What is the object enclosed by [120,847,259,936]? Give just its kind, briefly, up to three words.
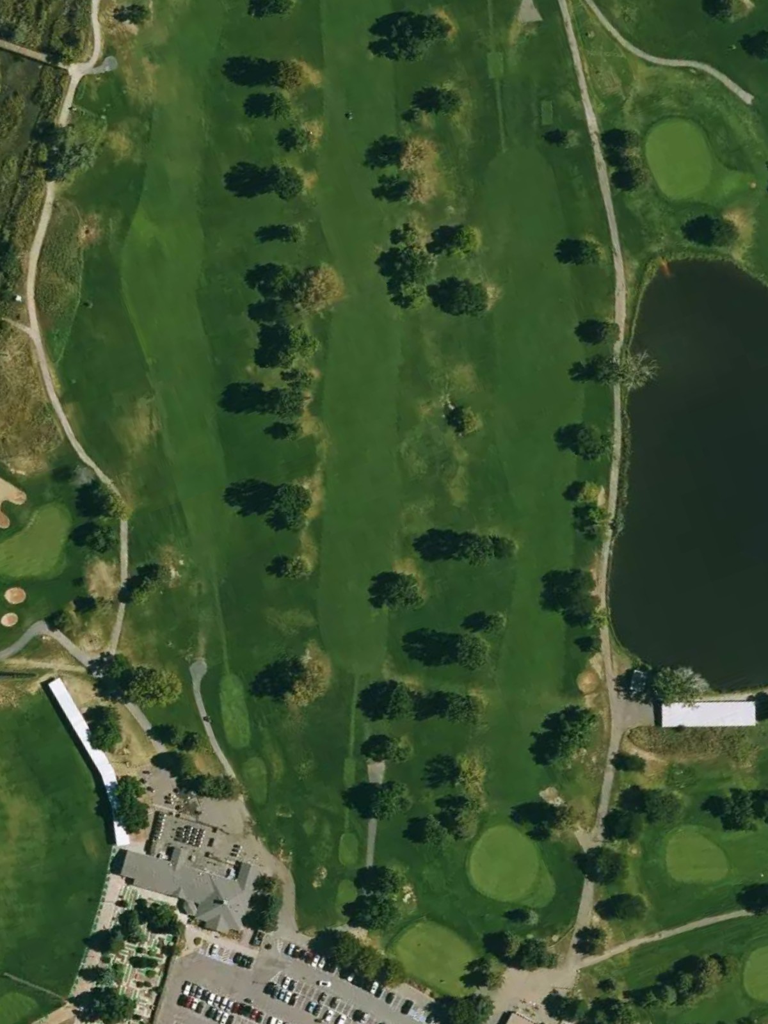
building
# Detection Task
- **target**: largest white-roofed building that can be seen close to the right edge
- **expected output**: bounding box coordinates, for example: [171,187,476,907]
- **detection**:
[662,701,757,727]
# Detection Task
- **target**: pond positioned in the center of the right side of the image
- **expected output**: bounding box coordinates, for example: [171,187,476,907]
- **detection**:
[609,261,768,692]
